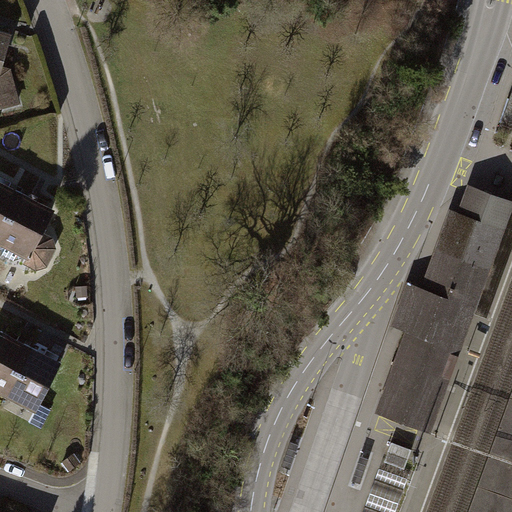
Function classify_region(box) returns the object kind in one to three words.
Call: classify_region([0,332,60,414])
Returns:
house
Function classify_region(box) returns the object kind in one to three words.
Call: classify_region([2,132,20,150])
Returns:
trampoline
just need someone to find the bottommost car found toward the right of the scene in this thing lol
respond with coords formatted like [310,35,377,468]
[468,127,482,148]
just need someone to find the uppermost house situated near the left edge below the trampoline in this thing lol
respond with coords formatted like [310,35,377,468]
[0,184,55,271]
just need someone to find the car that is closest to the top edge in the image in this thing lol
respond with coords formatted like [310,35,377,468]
[491,62,505,84]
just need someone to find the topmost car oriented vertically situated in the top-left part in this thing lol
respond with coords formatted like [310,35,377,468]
[96,126,109,149]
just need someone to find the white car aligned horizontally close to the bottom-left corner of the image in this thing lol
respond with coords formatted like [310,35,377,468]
[4,464,26,477]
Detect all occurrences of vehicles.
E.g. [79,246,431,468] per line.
[4,464,26,477]
[124,316,134,340]
[96,126,109,149]
[491,62,505,84]
[124,344,134,368]
[468,127,482,148]
[102,156,115,181]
